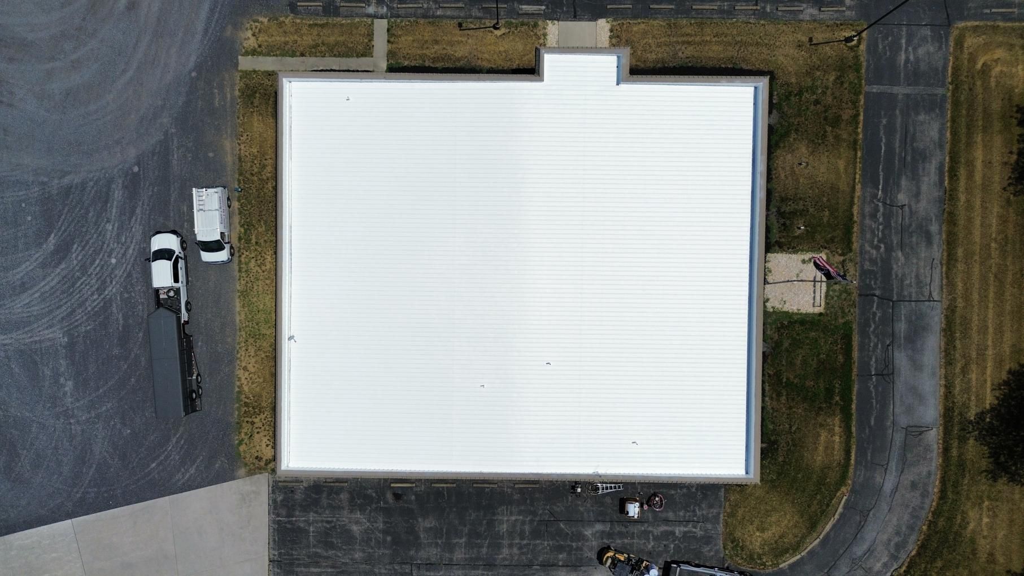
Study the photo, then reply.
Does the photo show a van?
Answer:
Yes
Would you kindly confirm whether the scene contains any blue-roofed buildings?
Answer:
No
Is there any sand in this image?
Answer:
No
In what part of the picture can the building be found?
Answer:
center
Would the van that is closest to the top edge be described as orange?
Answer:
No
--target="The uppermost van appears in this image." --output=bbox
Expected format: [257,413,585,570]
[190,188,235,266]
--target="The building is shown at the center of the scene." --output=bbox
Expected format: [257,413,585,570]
[275,46,769,484]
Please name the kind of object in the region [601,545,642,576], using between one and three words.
work vehicle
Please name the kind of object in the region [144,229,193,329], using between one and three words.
truck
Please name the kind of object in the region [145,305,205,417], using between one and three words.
trailer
